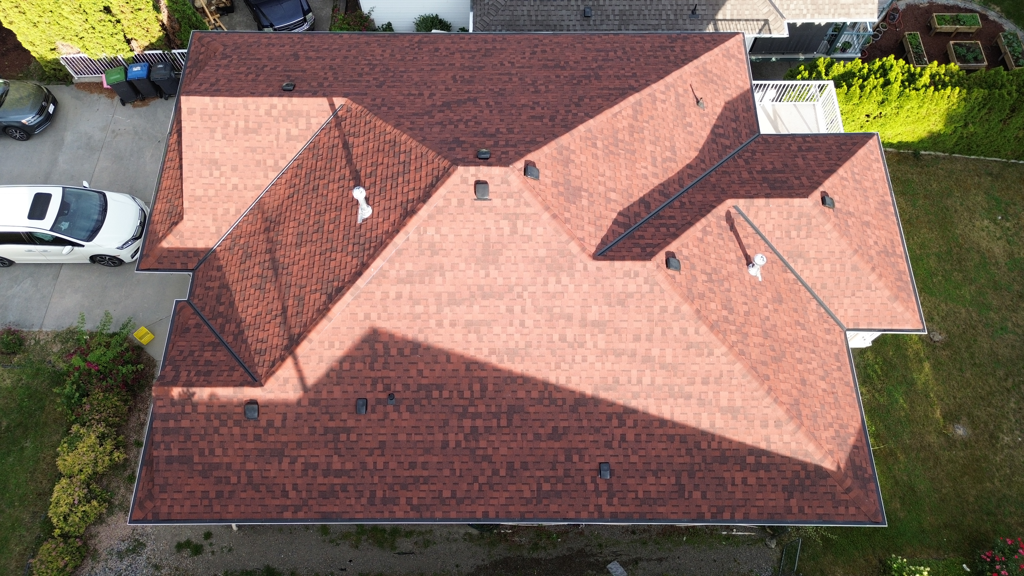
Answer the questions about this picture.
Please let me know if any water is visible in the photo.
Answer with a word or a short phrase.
No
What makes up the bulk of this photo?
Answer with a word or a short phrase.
buildings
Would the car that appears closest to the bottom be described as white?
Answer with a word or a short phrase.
Yes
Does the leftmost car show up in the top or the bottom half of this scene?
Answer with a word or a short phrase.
top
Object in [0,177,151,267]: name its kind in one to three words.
car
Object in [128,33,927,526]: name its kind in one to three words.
house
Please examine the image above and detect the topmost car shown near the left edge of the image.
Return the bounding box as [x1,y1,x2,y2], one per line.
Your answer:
[0,74,60,141]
